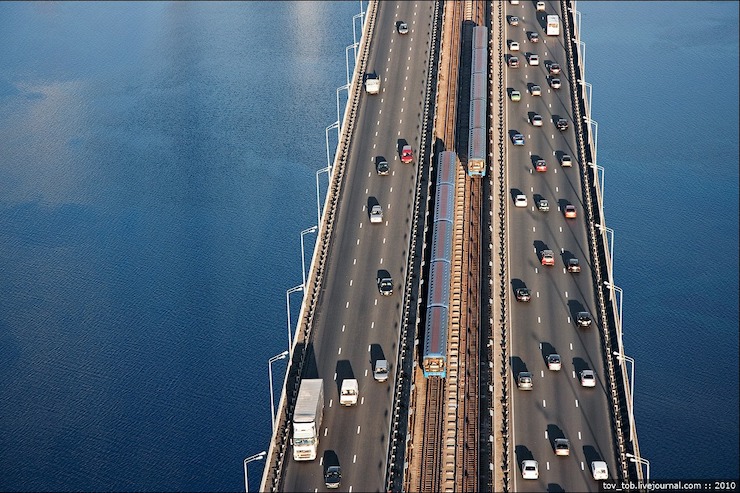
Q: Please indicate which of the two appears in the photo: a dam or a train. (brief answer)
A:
train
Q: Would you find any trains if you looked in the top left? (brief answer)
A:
No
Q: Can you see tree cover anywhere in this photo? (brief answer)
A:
No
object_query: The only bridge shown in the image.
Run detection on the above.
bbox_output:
[261,0,645,493]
